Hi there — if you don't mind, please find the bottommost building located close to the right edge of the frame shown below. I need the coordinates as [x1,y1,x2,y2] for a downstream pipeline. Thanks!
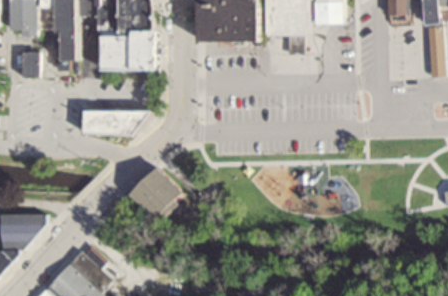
[430,26,445,77]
